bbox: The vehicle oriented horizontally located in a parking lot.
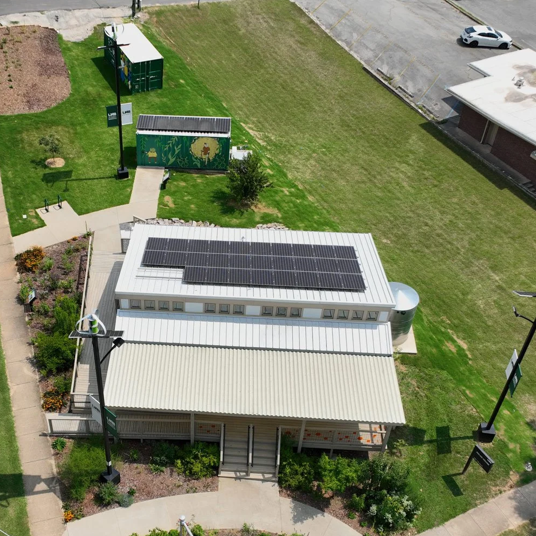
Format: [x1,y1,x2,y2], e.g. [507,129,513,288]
[460,21,523,49]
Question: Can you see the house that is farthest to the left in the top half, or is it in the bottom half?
bottom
